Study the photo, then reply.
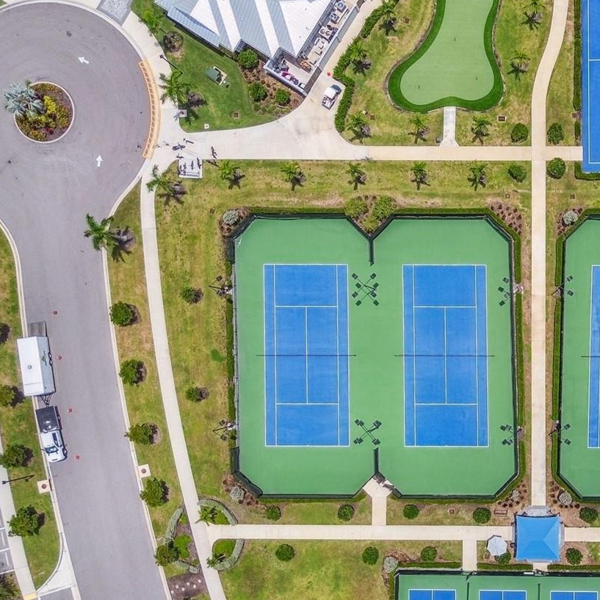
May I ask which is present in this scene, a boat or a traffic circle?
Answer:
traffic circle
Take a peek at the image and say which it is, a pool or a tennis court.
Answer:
tennis court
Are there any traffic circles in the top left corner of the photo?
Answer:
Yes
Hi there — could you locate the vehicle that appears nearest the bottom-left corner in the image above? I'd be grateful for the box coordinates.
[37,408,65,462]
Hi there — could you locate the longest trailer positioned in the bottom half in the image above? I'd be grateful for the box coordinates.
[16,322,52,404]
